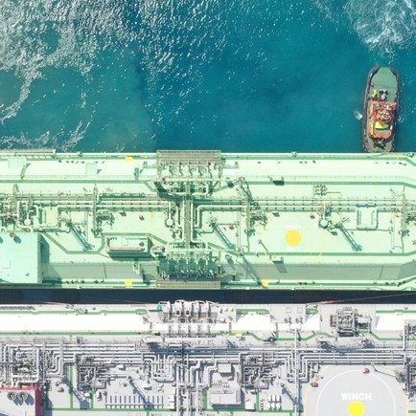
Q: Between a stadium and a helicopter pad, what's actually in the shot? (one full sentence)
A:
Of the two, only a helicopter pad appears.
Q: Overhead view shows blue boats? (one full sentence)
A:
No, I can't see a single blue boat in this photo.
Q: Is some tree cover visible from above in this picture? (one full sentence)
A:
No, there's no tree cover in this view.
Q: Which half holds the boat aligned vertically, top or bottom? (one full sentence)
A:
You can find the boat aligned vertically in the top half.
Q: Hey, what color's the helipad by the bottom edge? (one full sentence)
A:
The helipad by the bottom edge is white.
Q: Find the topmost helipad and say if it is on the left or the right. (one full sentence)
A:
The topmost helipad appears in the right half of the scene.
